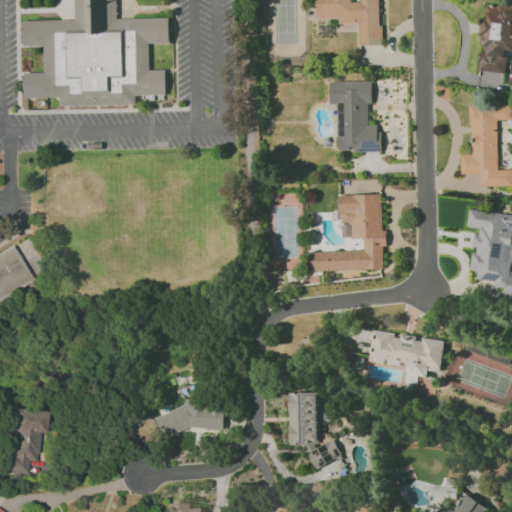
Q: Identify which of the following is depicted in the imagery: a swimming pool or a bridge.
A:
swimming pool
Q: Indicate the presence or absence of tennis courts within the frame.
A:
Yes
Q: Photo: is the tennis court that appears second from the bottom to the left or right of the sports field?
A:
right of it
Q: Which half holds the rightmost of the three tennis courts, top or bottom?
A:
bottom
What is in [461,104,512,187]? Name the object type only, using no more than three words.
house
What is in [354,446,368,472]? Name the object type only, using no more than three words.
swimming pool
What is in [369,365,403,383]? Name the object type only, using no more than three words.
swimming pool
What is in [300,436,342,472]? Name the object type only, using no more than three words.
building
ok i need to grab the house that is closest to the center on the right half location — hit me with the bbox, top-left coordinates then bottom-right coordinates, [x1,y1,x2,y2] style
[312,194,386,272]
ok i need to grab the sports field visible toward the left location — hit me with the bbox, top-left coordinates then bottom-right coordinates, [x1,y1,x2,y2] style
[46,150,247,296]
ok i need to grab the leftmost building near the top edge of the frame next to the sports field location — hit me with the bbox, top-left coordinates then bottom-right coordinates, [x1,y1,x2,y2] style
[22,0,168,105]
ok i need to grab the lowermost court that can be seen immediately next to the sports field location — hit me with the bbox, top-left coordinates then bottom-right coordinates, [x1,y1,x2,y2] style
[271,195,304,272]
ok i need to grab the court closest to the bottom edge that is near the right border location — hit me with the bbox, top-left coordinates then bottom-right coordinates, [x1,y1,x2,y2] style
[448,350,512,405]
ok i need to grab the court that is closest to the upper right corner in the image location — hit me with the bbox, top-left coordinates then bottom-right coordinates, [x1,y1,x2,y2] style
[271,0,310,58]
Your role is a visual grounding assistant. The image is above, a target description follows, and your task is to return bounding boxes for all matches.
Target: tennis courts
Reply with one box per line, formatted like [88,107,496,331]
[448,350,512,405]
[271,195,304,272]
[271,0,310,58]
